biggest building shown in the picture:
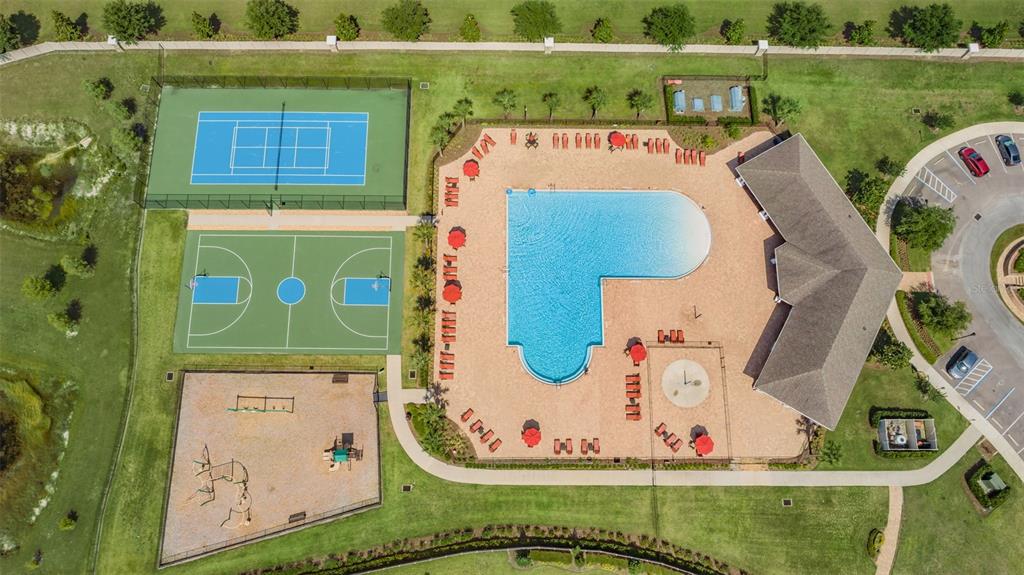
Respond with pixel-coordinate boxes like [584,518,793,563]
[734,133,903,431]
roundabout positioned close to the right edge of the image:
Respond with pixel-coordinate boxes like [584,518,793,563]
[957,194,1024,355]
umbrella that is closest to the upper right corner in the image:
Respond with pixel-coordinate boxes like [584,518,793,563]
[608,132,625,148]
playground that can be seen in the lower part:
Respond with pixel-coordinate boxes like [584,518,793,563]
[157,369,384,570]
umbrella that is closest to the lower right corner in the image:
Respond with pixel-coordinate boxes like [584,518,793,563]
[694,434,714,454]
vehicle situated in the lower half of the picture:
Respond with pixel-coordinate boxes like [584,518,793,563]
[947,349,978,379]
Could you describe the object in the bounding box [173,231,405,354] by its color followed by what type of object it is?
green basketball court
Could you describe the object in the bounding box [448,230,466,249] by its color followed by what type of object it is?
red umbrella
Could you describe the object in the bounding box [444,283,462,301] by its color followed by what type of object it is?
red umbrella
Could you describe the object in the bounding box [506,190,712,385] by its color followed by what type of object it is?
blue swimming pool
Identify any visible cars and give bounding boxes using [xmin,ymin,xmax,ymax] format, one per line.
[947,349,978,379]
[995,136,1024,166]
[961,147,994,177]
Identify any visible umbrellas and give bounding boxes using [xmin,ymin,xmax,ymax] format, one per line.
[694,434,714,454]
[629,344,647,363]
[448,230,466,249]
[608,132,625,148]
[463,160,481,178]
[444,283,462,301]
[522,427,542,446]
